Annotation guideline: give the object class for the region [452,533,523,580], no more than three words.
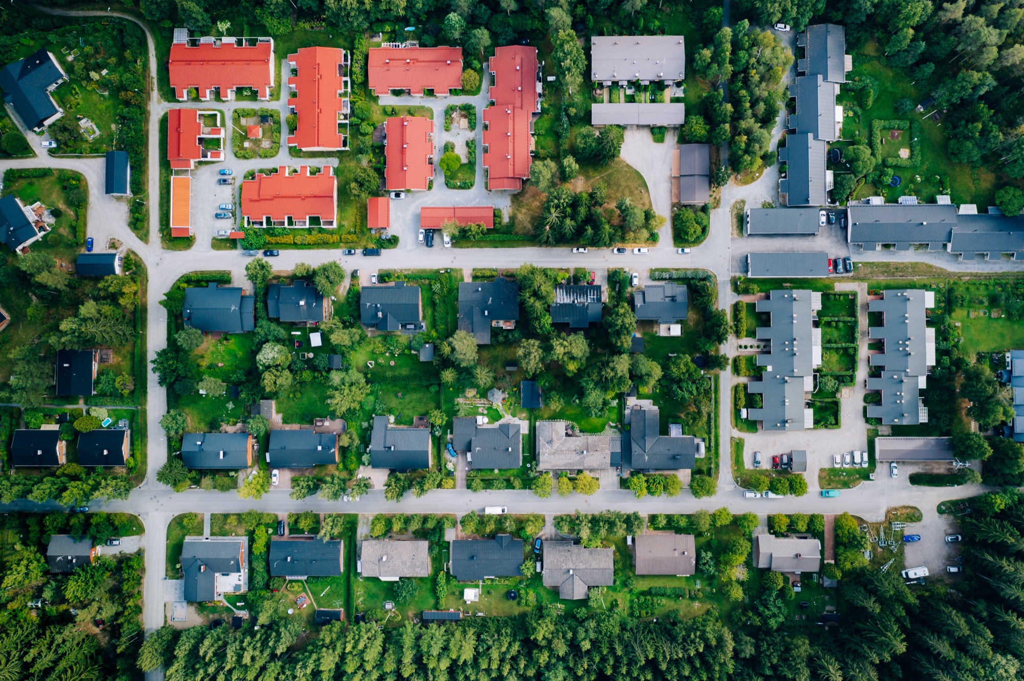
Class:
house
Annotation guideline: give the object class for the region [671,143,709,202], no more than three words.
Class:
building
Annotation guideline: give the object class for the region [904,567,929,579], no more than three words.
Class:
vehicle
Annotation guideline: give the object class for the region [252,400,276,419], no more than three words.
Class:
shed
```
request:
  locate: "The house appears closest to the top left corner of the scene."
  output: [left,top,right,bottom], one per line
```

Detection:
[0,47,71,131]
